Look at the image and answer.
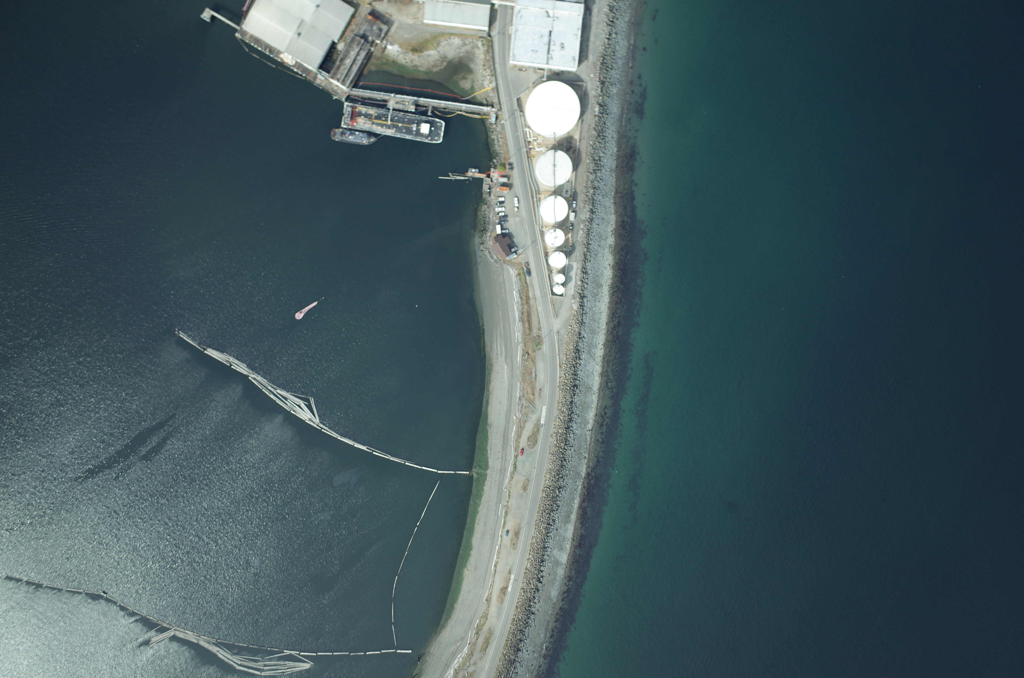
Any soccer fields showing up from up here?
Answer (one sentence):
No, I find no soccer field anywhere in the image.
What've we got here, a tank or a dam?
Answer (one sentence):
Visible in the photo is a tank.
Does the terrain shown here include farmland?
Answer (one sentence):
No, the picture contains no farmland.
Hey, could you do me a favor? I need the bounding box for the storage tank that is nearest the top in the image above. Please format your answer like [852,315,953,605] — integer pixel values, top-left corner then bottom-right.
[521,81,581,139]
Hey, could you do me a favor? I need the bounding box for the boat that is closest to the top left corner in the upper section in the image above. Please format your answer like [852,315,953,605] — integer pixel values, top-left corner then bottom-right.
[330,127,377,143]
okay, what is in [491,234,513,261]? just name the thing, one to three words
house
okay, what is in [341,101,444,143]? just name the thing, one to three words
ship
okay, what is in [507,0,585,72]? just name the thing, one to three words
building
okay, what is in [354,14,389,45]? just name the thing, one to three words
building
